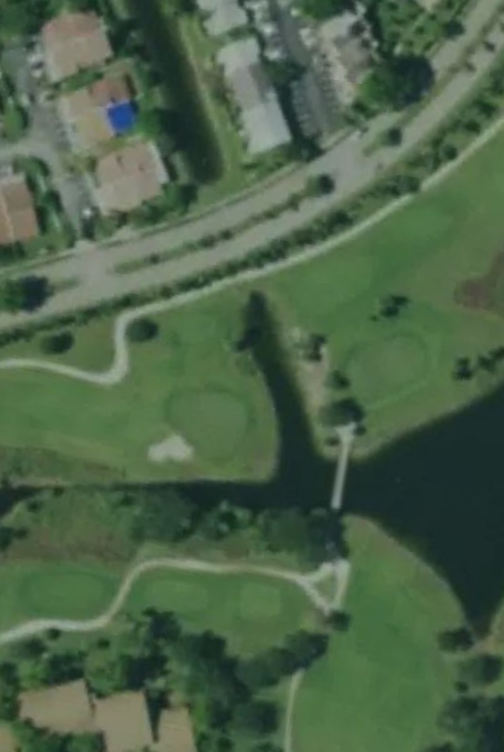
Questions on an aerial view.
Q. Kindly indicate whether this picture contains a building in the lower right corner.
No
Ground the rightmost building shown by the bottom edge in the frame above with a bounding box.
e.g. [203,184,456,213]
[158,709,196,752]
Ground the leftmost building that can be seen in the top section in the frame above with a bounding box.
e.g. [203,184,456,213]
[0,174,36,243]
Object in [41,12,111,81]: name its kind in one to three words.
house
